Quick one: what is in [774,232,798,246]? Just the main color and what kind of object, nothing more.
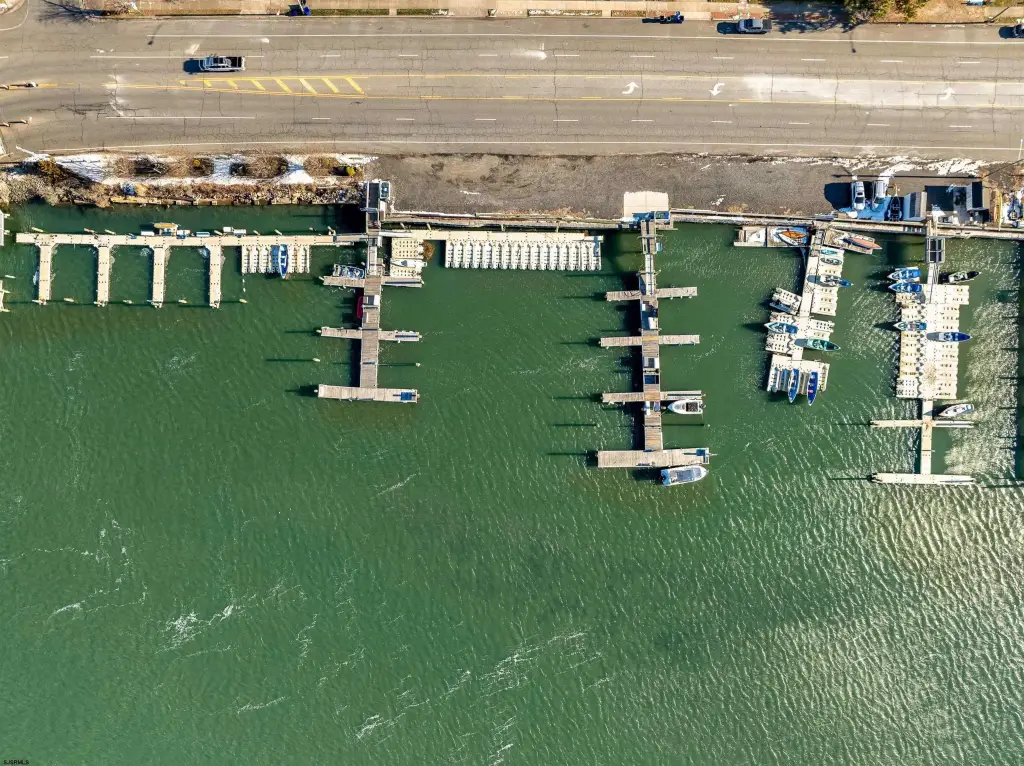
white boat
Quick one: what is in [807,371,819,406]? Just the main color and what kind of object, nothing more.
blue boat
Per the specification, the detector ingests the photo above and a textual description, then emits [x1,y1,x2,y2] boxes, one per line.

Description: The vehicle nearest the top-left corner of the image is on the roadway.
[201,54,245,73]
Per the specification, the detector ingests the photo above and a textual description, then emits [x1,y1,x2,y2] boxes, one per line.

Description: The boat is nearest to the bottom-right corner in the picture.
[938,402,975,417]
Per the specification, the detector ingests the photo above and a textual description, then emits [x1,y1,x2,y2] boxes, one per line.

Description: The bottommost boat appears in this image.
[659,466,709,485]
